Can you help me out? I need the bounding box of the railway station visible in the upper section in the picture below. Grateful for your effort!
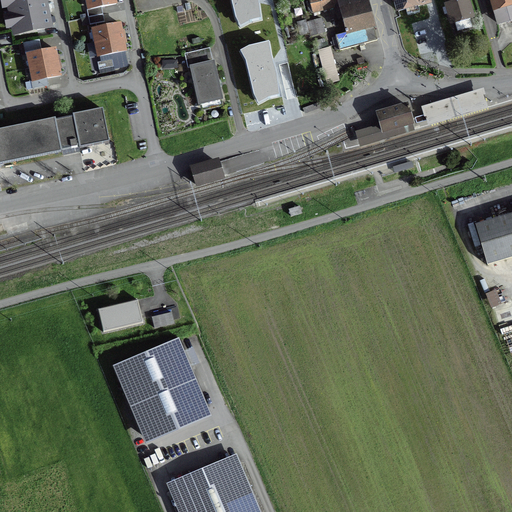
[254,98,512,208]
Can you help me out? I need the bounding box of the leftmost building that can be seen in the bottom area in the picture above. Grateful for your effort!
[98,300,143,332]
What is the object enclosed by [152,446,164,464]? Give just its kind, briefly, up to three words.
vehicle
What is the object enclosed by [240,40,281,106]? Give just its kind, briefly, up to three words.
building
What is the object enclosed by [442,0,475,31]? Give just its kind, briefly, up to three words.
house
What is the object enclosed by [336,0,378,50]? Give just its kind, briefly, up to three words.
house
